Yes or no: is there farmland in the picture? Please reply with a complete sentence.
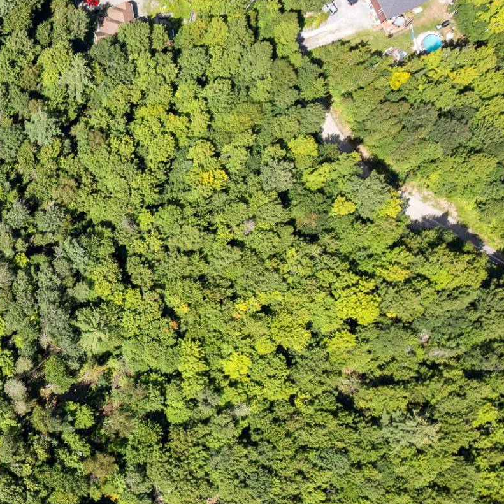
No, no farmland is visible.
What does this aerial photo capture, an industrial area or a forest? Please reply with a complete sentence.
The picture captures a forest.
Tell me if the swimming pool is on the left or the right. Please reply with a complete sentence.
It is on the right.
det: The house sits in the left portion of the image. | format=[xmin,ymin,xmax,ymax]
[93,2,134,42]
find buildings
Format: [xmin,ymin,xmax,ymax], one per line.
[365,0,426,36]
[93,2,134,42]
